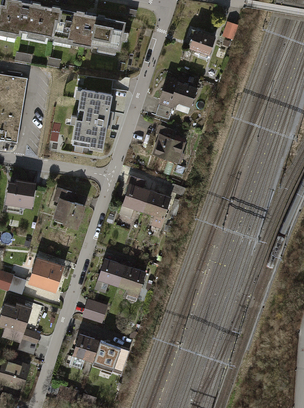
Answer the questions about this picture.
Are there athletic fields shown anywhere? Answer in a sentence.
No, no athletic field is visible in the view.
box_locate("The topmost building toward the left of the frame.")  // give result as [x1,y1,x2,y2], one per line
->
[0,0,125,55]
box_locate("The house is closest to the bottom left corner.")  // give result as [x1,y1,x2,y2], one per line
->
[0,359,30,390]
